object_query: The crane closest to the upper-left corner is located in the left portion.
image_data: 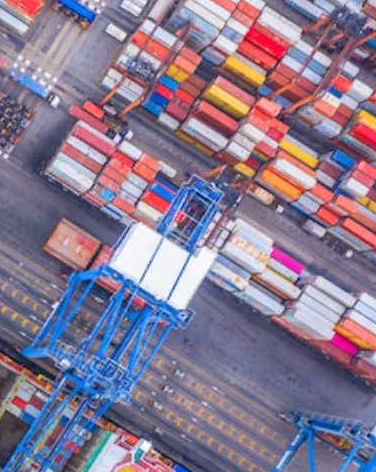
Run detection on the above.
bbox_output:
[95,10,194,122]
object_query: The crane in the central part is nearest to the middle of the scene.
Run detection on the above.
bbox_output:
[177,159,261,251]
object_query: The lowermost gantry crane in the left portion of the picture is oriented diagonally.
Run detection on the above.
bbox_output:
[0,160,231,472]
